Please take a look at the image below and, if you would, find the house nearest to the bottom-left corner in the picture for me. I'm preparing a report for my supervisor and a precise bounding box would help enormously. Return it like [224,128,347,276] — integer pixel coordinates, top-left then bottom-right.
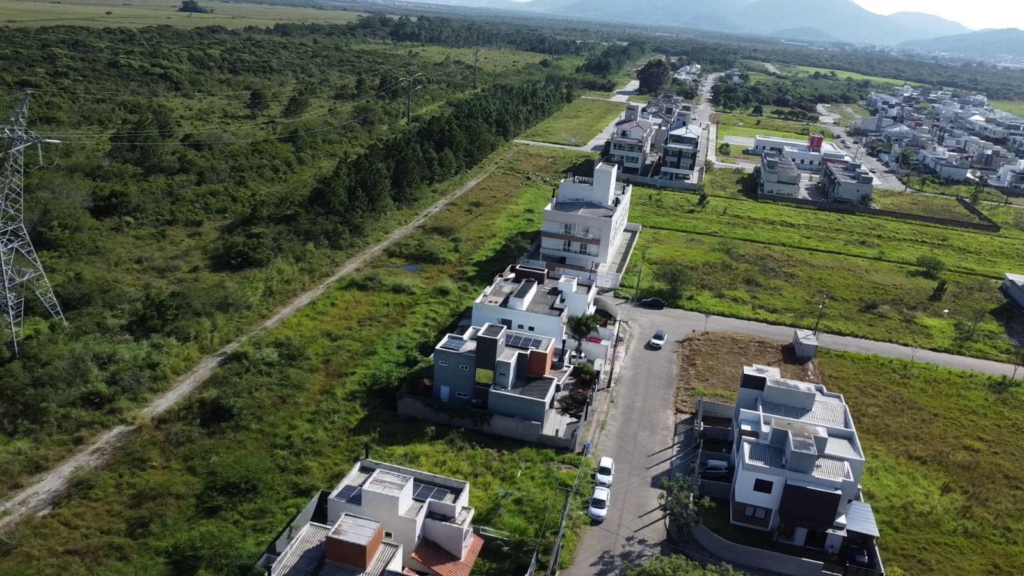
[268,514,405,576]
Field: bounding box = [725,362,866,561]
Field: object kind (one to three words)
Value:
house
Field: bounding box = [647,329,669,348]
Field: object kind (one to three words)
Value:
car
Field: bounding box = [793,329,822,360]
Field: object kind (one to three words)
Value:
shed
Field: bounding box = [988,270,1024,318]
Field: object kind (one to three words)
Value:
building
